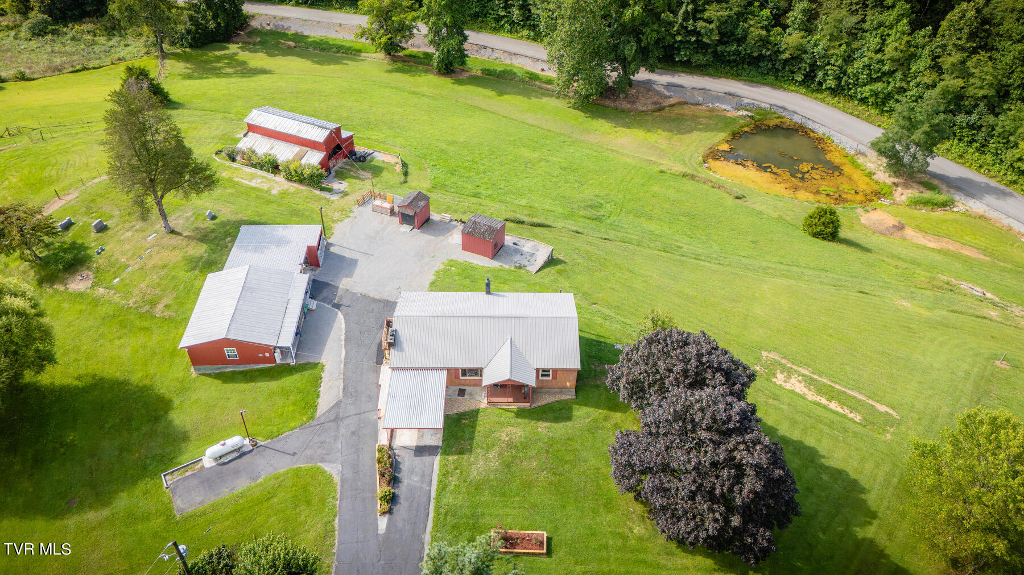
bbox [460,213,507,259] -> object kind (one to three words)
shed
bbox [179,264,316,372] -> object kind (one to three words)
building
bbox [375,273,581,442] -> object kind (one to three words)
house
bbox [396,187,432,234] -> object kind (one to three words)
shed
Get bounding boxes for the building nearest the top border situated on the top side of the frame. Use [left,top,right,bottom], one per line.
[239,107,355,174]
